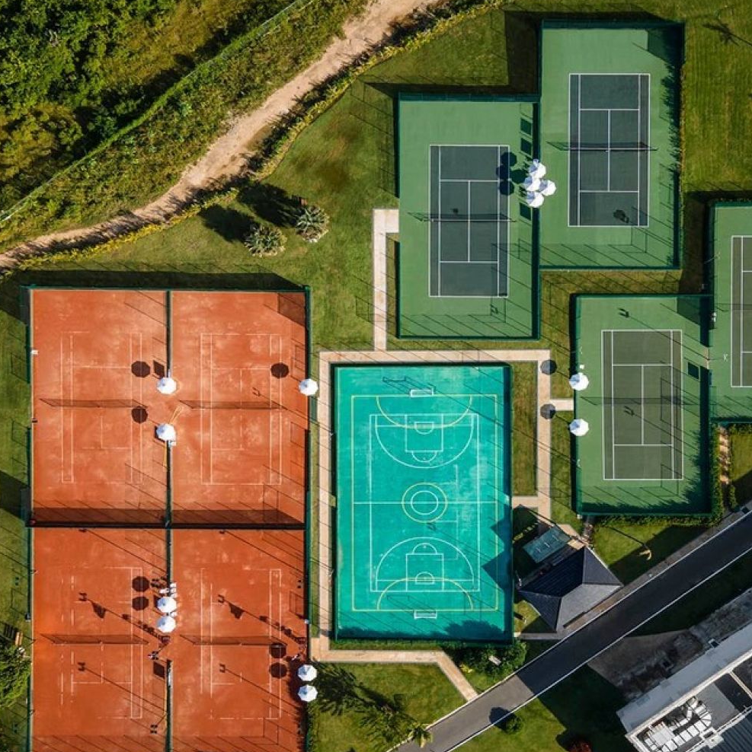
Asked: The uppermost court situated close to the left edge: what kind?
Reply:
tennis court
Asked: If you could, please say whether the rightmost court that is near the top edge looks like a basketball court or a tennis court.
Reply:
tennis court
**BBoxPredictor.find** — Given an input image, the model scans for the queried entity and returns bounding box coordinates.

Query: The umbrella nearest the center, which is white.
[299,378,318,396]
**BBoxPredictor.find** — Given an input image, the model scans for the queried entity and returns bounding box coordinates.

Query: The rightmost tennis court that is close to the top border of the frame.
[540,29,678,268]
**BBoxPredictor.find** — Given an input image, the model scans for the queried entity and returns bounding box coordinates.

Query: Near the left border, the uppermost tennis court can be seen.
[32,290,169,526]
